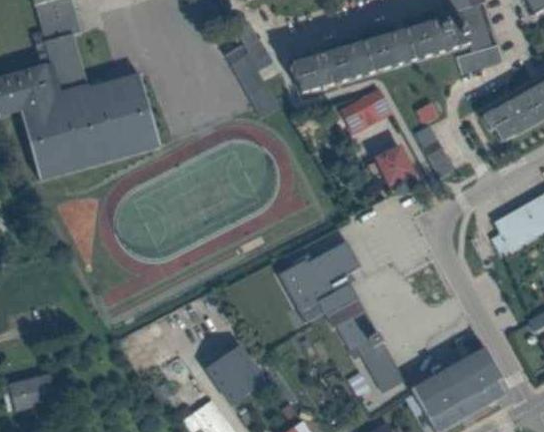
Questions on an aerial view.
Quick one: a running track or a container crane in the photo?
running track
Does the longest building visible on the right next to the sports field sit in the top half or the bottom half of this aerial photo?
top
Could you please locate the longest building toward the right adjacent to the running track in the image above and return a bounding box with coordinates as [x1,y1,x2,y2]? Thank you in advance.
[291,15,469,96]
